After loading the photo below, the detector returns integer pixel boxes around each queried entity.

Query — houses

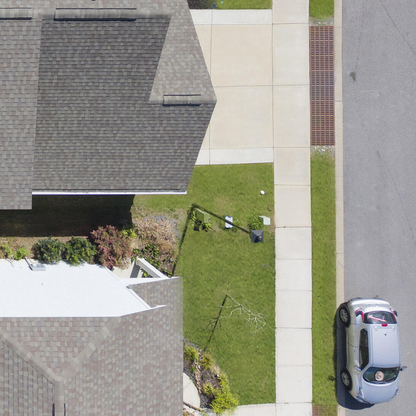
[0,253,182,416]
[0,0,217,210]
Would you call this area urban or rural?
urban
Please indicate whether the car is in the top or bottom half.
bottom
